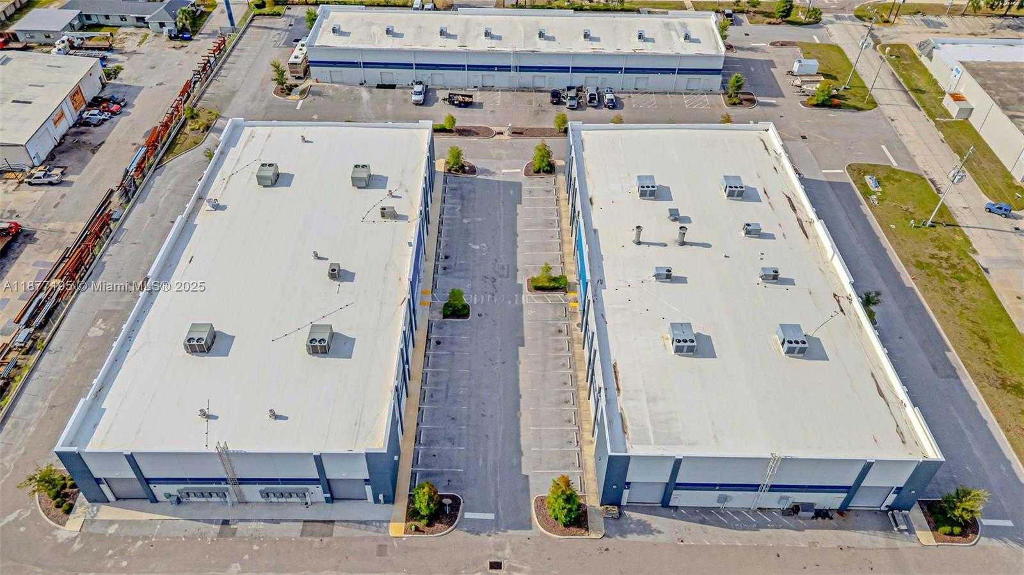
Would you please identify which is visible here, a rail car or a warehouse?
warehouse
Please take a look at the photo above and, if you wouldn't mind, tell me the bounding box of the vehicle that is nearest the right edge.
[983,200,1018,218]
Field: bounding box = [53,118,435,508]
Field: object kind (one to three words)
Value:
warehouse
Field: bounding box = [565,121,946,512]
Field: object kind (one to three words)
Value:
warehouse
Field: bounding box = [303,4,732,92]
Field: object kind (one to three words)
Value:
building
